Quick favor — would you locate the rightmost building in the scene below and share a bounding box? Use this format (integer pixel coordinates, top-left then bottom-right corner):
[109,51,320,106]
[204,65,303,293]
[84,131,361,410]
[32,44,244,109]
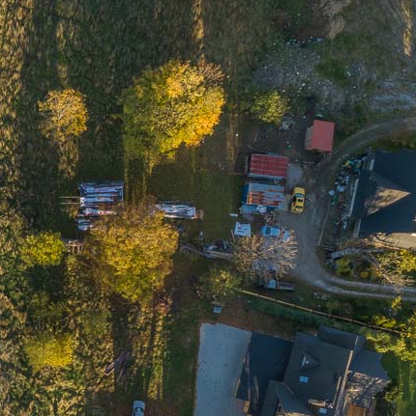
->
[340,151,416,256]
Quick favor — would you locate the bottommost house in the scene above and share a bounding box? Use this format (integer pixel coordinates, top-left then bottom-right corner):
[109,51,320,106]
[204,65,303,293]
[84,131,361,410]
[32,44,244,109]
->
[227,322,390,416]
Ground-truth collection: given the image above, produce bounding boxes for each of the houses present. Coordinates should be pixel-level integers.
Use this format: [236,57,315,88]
[227,322,390,416]
[340,151,416,256]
